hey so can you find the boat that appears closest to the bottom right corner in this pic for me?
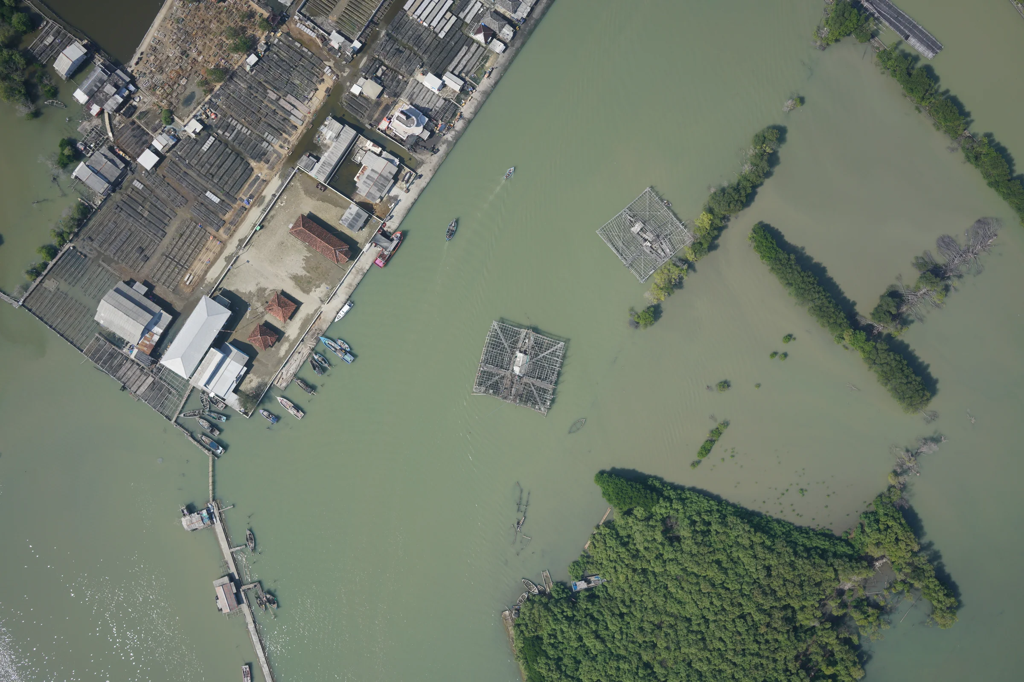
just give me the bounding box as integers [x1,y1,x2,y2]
[572,578,606,591]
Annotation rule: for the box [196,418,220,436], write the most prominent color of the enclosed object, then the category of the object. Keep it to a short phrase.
gray boat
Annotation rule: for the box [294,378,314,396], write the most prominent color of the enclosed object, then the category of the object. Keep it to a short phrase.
gray boat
